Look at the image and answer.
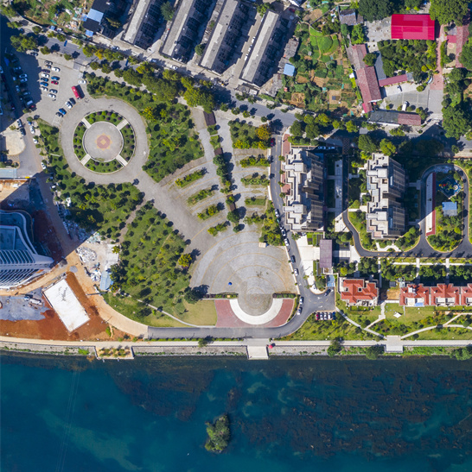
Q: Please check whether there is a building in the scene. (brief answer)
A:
Yes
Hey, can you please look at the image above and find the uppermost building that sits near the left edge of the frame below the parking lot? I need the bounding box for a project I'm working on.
[0,211,58,290]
